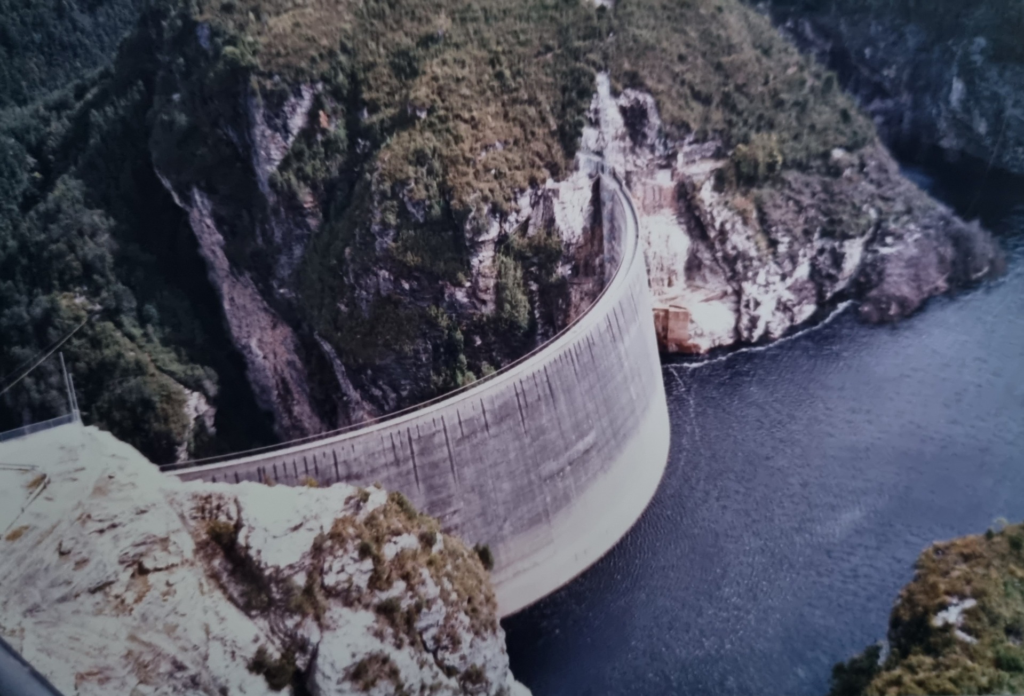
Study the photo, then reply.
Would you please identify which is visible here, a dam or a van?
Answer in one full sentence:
Looking from above, you can make out a dam.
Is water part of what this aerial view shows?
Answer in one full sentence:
Yes, some water is visible.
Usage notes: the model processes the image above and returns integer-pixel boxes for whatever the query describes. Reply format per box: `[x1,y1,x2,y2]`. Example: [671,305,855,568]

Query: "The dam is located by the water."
[152,165,672,627]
